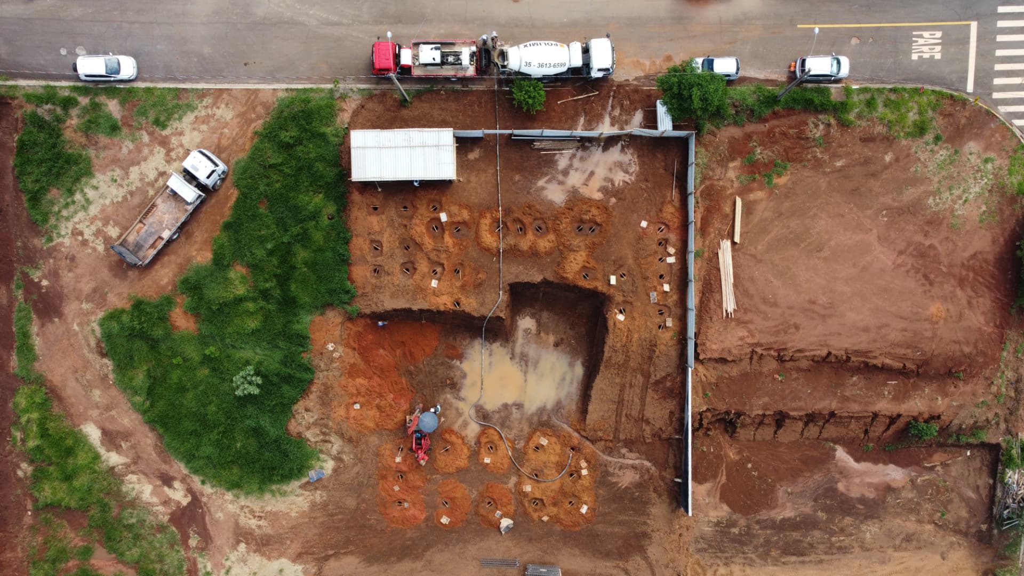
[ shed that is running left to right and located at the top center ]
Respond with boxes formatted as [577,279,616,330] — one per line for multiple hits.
[351,128,469,186]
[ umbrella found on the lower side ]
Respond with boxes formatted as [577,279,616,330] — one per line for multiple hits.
[419,412,438,431]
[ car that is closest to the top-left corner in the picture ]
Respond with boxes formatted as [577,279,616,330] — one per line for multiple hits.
[74,52,141,82]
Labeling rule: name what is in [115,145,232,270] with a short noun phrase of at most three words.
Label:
truck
